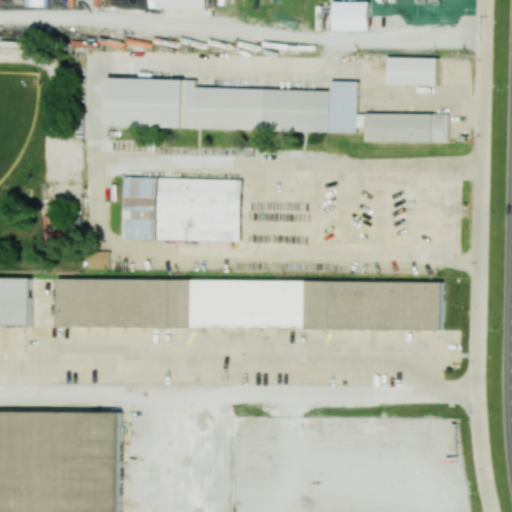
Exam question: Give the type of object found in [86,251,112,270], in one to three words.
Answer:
shed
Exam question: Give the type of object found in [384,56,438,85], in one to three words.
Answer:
shed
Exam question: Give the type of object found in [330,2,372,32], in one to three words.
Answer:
building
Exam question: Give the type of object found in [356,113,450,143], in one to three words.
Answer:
building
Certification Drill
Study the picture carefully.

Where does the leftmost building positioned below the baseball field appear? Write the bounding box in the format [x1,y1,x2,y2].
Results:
[0,278,33,327]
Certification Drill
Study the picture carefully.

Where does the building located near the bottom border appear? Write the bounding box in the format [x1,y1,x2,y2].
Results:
[0,412,122,512]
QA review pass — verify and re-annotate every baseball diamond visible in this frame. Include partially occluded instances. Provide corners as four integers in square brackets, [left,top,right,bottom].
[0,71,40,183]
